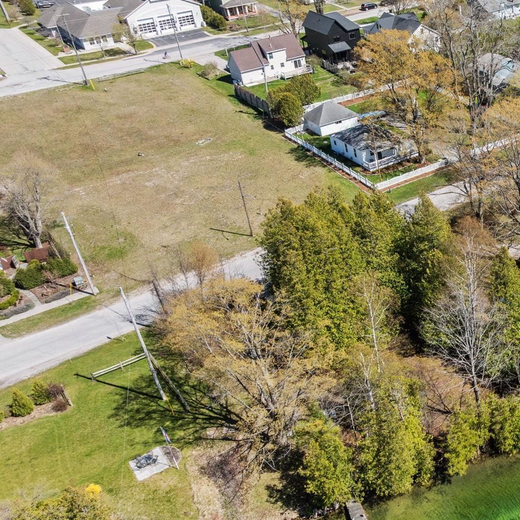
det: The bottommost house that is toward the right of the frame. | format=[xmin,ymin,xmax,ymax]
[324,117,422,170]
